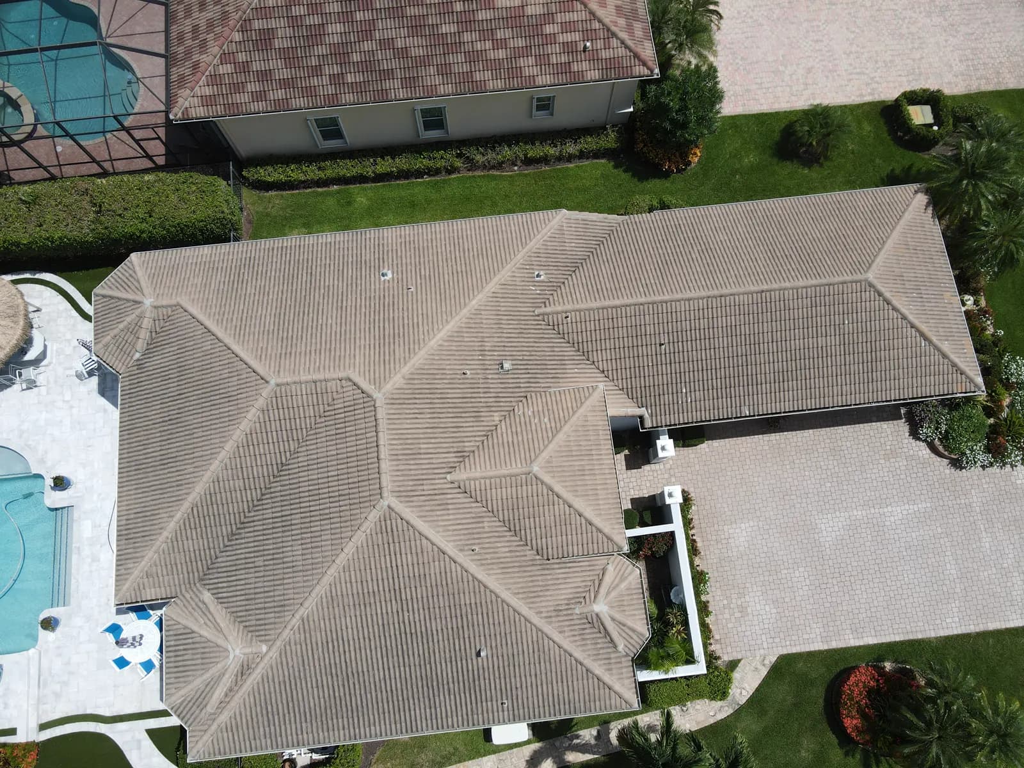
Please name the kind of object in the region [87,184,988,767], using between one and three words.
house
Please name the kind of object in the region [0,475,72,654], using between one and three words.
swimming pool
